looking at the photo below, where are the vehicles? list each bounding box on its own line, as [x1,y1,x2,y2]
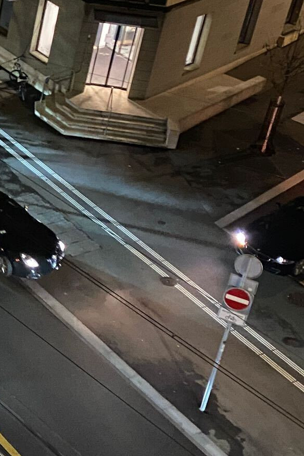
[0,191,71,278]
[232,188,304,276]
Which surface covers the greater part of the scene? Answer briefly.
paved ground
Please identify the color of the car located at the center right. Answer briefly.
black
